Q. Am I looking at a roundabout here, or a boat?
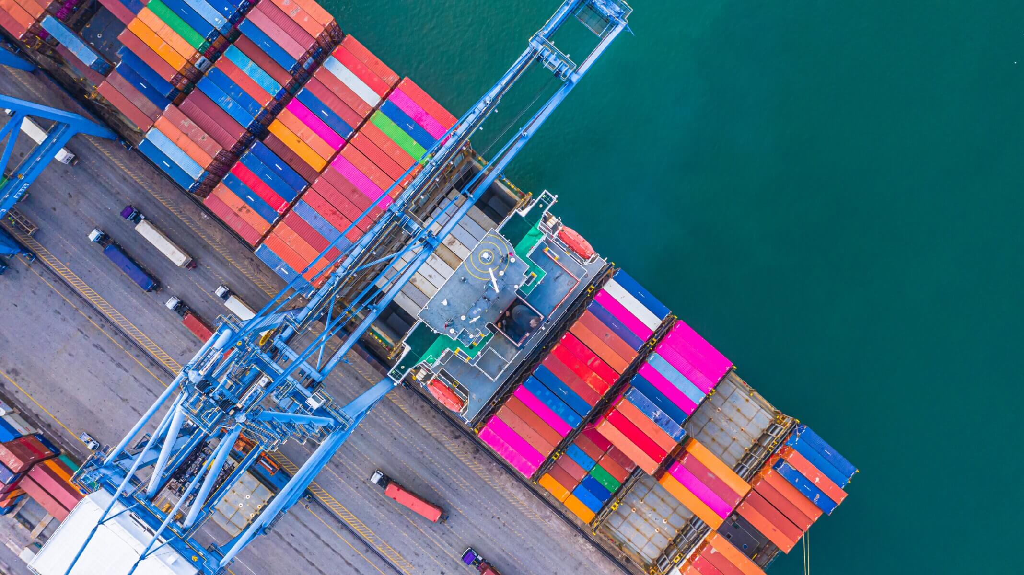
boat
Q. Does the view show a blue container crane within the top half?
Yes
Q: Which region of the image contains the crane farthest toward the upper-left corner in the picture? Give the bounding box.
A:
[0,50,134,266]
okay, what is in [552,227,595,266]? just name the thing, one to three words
boat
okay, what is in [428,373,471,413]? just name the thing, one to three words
boat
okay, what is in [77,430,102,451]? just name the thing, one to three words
truck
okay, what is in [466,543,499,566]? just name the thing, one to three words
truck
